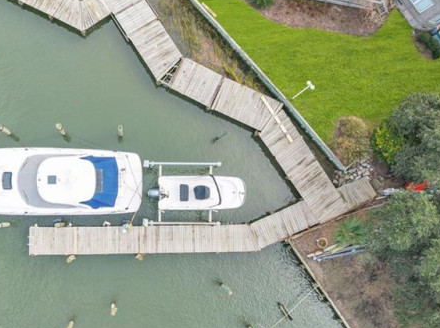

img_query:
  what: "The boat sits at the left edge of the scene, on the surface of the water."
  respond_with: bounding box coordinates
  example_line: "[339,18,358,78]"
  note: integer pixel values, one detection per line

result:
[0,146,143,216]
